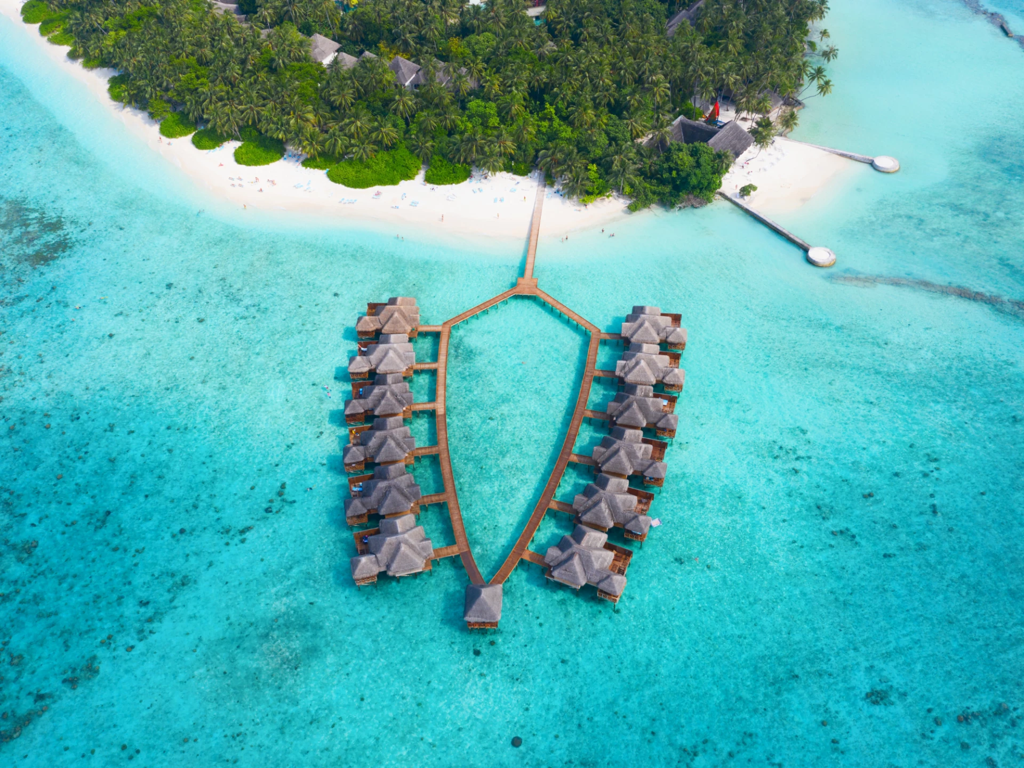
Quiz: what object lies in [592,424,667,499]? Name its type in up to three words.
house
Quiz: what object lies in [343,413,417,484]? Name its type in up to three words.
house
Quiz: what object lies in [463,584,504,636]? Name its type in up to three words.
building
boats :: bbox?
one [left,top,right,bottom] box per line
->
[706,94,730,124]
